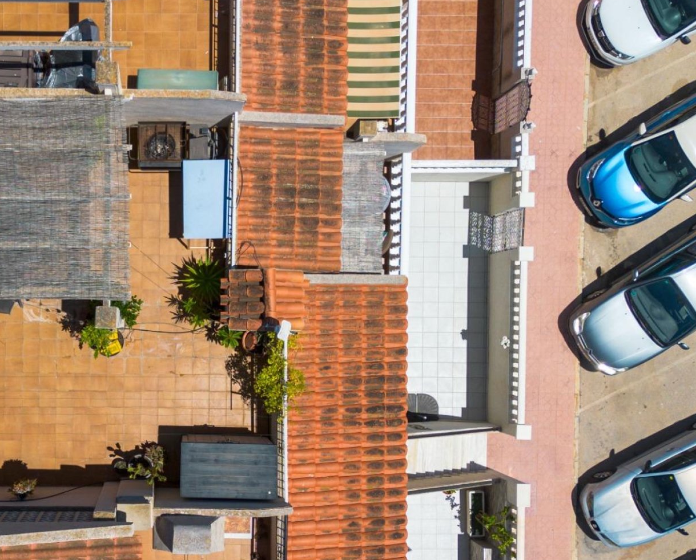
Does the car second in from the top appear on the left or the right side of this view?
right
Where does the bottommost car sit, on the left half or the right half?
right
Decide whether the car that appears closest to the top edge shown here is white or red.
white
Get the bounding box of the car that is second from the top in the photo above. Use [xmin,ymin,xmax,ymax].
[573,108,696,233]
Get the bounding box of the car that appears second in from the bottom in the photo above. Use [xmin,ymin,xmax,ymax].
[563,242,696,381]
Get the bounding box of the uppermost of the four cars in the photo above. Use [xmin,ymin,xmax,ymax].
[579,0,696,67]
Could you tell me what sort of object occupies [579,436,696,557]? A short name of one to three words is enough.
car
